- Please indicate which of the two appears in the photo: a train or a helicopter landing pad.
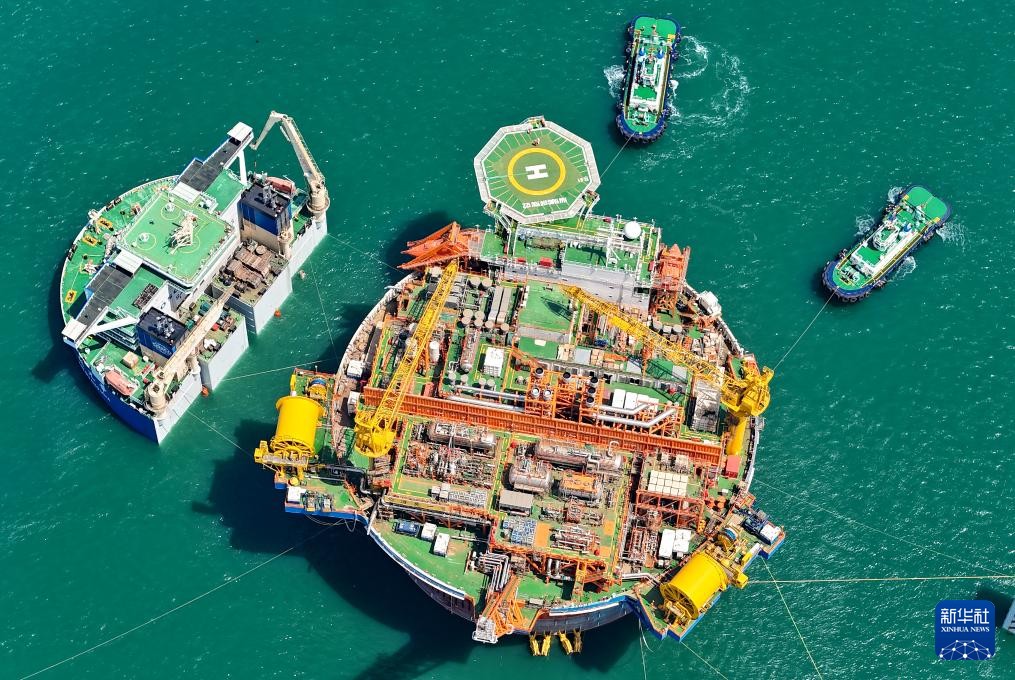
helicopter landing pad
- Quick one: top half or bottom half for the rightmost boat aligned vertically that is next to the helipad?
top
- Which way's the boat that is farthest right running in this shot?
at an angle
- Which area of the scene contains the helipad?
top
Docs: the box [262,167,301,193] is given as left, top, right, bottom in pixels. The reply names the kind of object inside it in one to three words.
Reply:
boat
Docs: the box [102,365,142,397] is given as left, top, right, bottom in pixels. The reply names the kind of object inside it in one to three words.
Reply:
boat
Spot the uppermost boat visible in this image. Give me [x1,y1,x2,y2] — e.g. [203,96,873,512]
[617,16,677,144]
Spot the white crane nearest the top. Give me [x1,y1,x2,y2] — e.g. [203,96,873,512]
[251,107,330,216]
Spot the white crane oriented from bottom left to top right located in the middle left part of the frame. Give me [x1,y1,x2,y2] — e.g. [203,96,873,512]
[143,287,245,408]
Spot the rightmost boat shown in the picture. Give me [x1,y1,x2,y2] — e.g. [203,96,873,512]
[823,186,956,305]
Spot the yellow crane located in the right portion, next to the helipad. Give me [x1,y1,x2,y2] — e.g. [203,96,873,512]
[558,282,779,458]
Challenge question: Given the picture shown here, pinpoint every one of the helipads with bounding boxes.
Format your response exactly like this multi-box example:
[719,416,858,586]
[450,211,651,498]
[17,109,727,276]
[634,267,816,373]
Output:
[474,112,604,239]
